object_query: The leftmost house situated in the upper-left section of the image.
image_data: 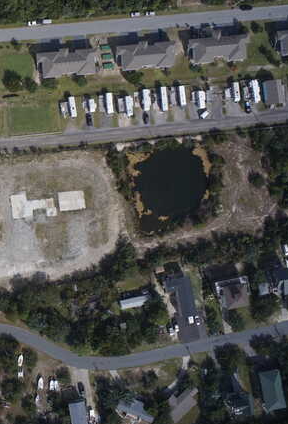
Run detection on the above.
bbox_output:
[37,49,97,78]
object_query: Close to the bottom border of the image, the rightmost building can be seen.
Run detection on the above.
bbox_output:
[257,369,286,411]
